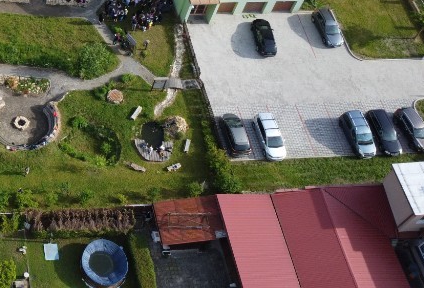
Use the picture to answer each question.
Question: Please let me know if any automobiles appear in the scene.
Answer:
Yes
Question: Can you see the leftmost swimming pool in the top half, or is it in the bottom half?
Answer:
bottom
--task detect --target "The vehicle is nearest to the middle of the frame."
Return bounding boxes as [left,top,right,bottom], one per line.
[222,118,252,159]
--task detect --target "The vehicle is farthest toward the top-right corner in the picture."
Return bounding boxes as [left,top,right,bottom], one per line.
[316,13,345,48]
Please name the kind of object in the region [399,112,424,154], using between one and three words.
car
